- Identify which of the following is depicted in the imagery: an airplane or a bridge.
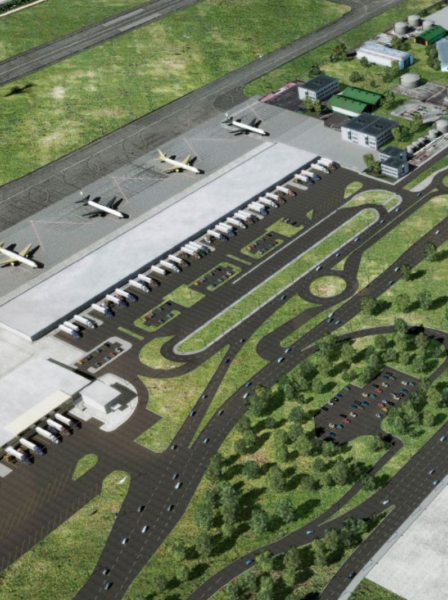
airplane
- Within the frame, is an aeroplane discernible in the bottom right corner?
No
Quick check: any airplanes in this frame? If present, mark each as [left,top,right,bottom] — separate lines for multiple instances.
[152,143,200,174]
[76,186,124,218]
[220,104,269,136]
[0,239,38,269]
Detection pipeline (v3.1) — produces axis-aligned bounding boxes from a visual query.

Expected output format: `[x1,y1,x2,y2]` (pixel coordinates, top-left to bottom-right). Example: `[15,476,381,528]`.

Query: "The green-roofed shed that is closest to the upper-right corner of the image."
[412,26,448,46]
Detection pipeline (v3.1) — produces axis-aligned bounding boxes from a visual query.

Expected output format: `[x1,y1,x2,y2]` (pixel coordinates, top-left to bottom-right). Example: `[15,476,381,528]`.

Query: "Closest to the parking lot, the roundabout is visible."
[309,276,347,297]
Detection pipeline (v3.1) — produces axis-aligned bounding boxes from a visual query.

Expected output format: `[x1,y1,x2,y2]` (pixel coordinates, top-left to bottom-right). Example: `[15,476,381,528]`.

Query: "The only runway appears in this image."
[0,0,199,85]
